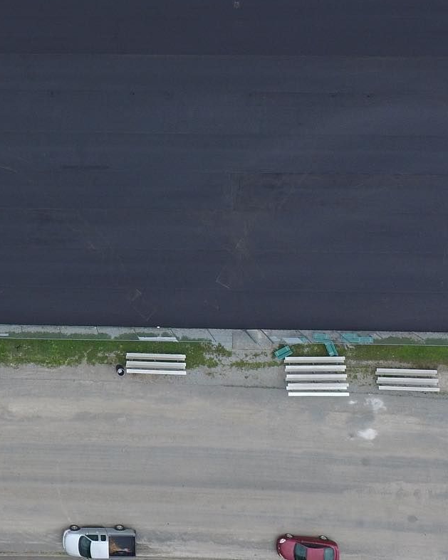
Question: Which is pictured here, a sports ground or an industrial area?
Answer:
sports ground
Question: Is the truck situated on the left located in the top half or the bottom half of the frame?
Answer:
bottom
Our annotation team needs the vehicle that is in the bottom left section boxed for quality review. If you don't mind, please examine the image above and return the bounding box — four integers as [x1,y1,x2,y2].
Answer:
[62,524,136,560]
